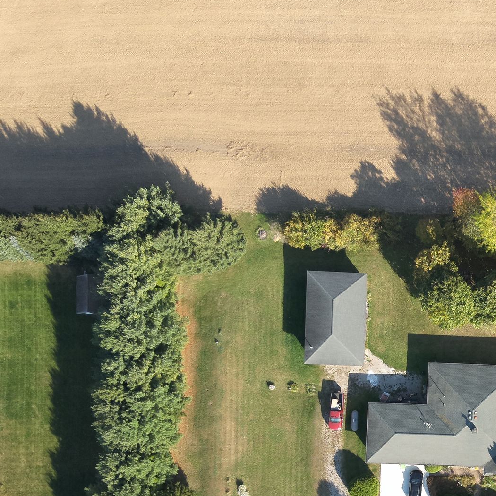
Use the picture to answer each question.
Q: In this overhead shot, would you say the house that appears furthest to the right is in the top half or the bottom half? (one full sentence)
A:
Seen from above, the house that appears furthest to the right lies in the bottom half of the view.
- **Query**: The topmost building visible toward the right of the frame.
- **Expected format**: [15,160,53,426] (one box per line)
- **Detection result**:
[303,269,368,366]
